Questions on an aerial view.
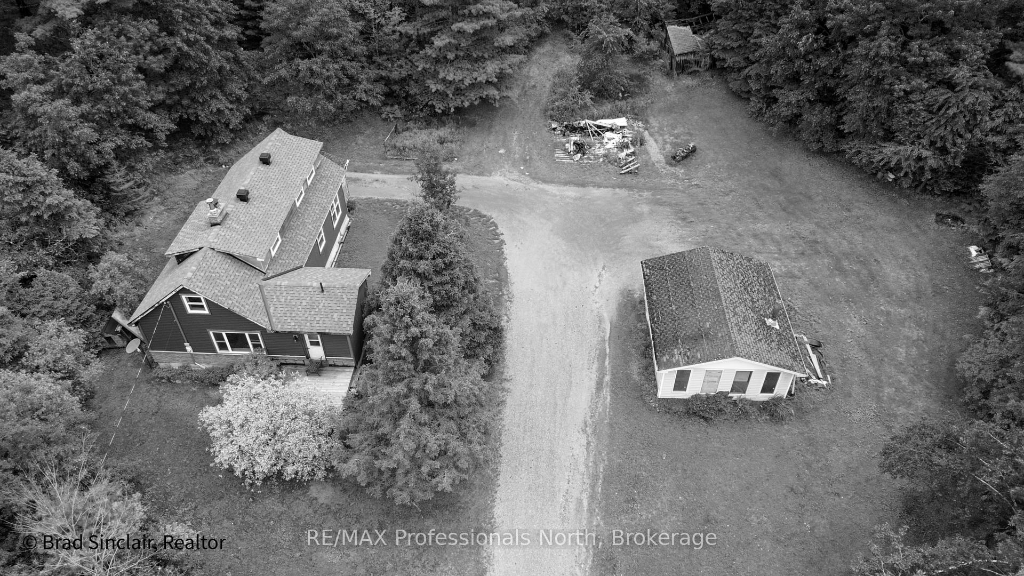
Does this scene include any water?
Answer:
No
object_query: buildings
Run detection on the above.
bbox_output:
[666,12,719,76]
[130,127,373,368]
[640,246,808,401]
